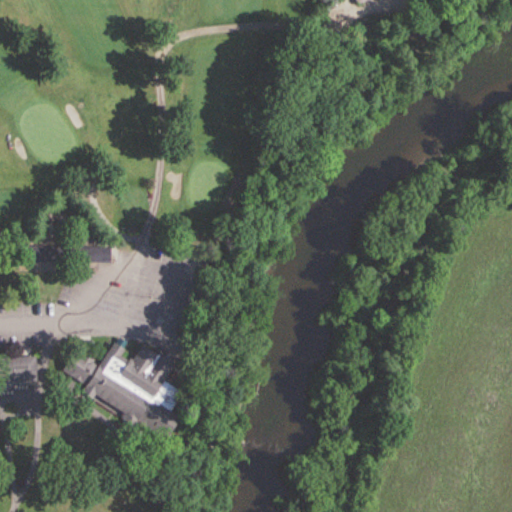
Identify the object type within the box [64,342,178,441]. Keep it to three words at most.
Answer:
building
